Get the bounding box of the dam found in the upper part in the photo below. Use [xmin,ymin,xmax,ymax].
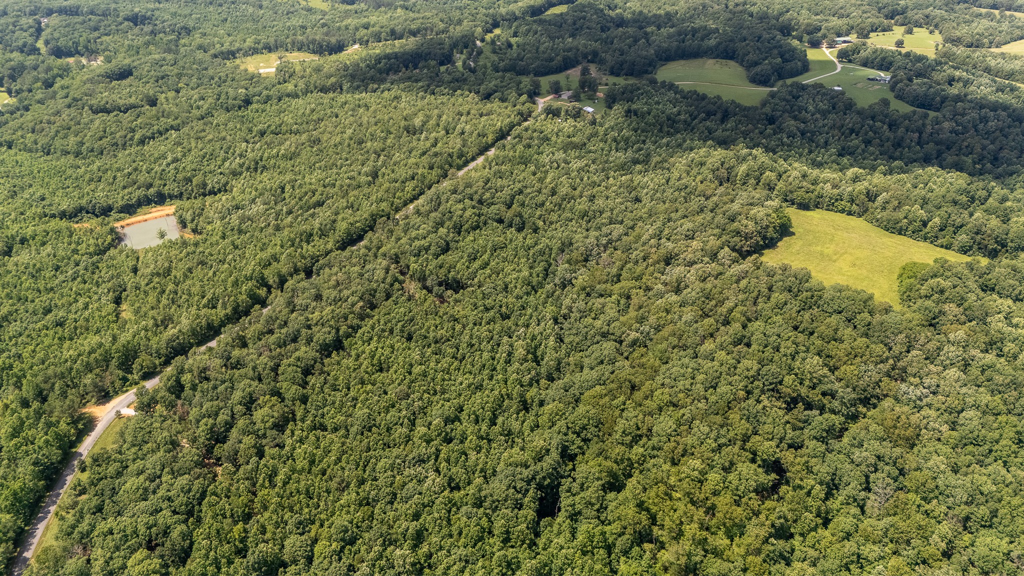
[112,205,176,230]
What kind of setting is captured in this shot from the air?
forest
